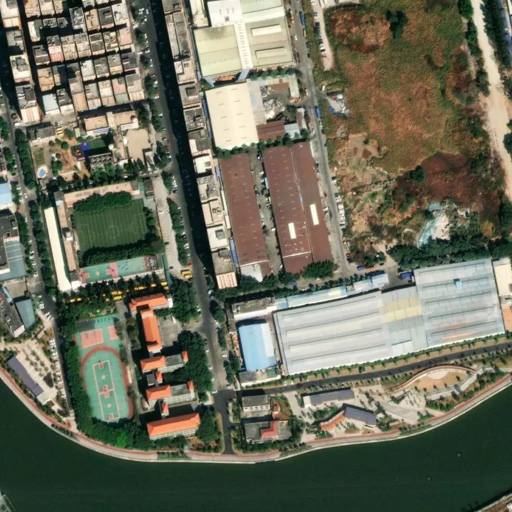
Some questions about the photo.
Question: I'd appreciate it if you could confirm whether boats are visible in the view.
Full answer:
No, I can't see a single boat in this photo.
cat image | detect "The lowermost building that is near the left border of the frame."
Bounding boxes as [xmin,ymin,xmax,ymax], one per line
[8,356,44,398]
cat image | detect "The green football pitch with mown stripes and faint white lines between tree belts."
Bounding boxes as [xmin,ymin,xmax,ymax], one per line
[76,198,150,255]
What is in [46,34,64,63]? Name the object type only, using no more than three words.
building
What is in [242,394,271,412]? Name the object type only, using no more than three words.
house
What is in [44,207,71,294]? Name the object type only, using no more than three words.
shed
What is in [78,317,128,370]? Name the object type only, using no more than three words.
basketball court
